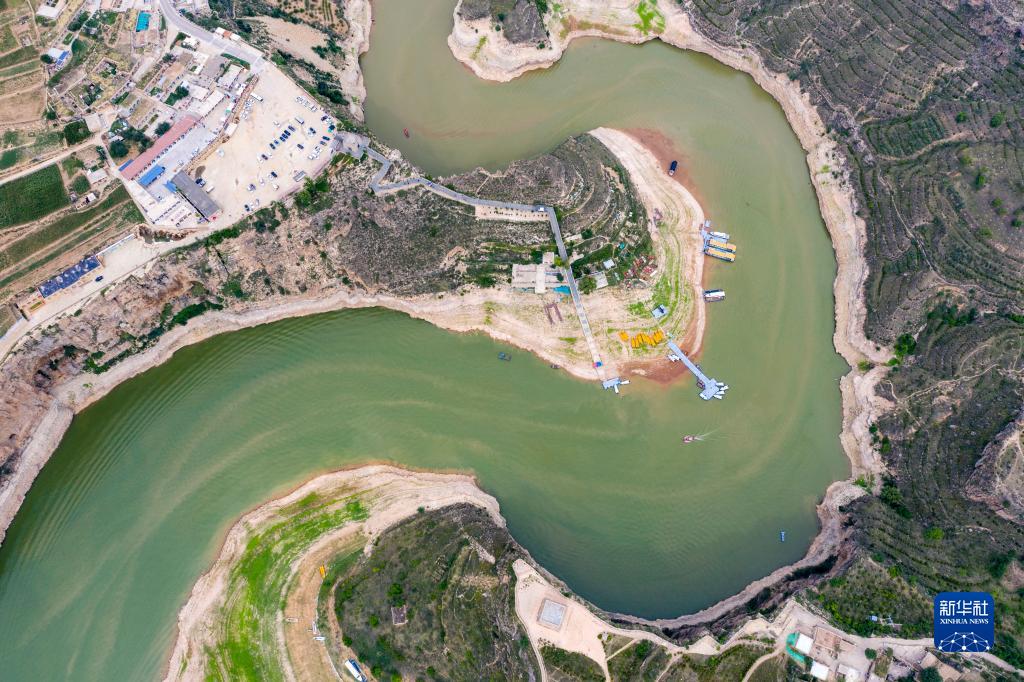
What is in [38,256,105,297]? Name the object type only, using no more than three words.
shed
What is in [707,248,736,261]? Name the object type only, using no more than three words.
boat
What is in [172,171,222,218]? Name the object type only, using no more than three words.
barn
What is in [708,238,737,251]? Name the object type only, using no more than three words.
boat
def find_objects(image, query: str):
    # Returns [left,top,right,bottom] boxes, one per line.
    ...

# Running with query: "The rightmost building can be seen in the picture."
[918,651,961,681]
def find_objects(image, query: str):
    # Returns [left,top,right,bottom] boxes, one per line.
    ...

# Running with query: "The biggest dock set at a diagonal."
[667,341,719,400]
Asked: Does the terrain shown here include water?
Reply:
Yes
